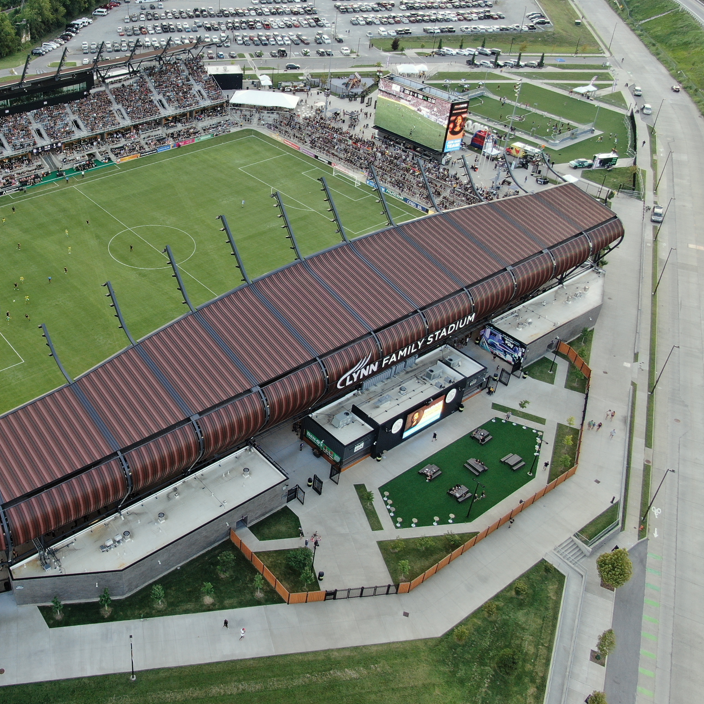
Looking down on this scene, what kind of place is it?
sports ground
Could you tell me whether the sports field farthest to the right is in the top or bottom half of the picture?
top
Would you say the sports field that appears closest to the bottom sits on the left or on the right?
left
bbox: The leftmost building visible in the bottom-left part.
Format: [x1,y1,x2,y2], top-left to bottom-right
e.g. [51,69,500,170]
[9,445,290,606]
